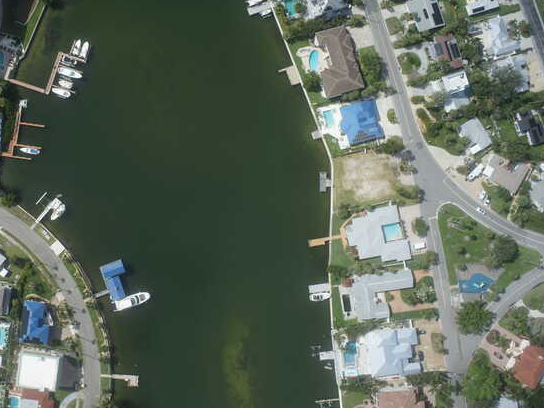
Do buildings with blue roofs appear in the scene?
Yes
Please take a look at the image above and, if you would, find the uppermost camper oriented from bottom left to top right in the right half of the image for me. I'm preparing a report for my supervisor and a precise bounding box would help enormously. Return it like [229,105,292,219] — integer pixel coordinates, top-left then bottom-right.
[467,165,483,181]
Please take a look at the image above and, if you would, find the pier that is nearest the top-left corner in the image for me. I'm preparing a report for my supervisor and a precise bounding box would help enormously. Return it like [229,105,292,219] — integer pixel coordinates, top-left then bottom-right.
[7,39,88,95]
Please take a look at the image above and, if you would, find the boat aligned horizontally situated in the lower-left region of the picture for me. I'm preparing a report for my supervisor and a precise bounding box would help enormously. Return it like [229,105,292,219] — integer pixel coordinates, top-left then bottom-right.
[112,295,150,310]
